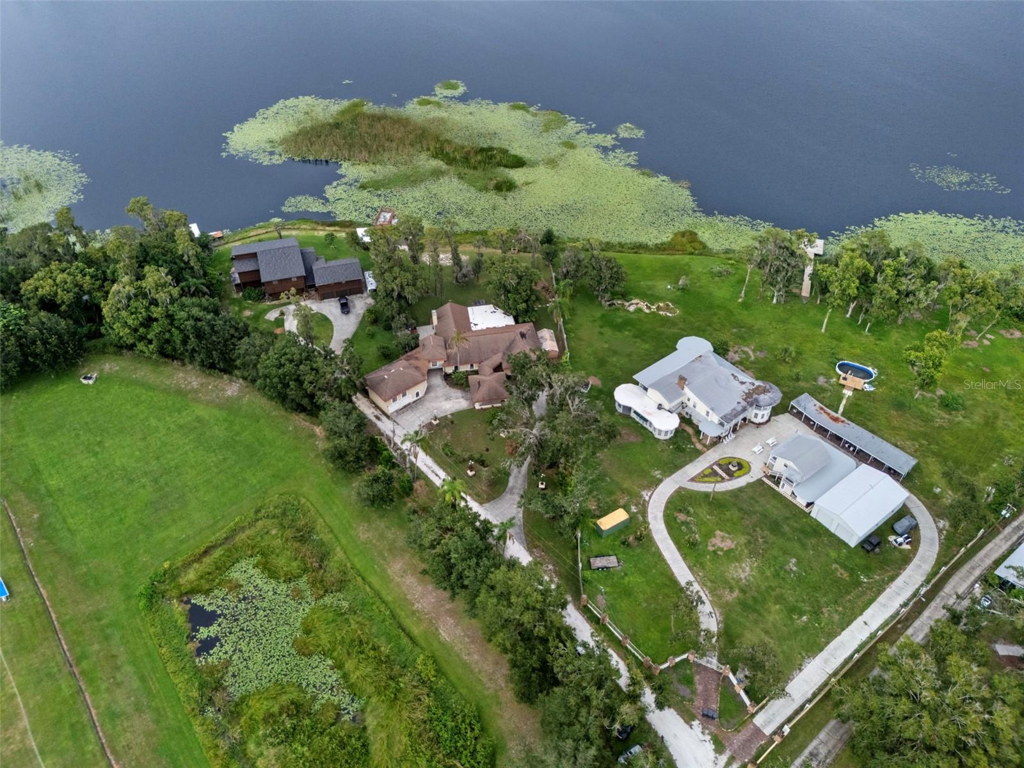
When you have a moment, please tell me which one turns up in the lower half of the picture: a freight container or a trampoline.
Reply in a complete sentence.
Visible in the lower half of the picture is a freight container.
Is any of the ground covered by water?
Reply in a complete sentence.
Yes, water shows up in the scene.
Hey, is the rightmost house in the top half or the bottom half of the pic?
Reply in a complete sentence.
The bottom half of the photo is where the rightmost house is.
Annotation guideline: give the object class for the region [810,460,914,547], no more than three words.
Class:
barn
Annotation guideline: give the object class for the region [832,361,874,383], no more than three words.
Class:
swimming pool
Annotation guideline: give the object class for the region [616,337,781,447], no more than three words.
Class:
house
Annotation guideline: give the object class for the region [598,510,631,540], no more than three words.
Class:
shipping container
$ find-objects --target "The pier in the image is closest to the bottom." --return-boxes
[803,240,831,298]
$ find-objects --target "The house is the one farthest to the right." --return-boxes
[995,544,1024,610]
